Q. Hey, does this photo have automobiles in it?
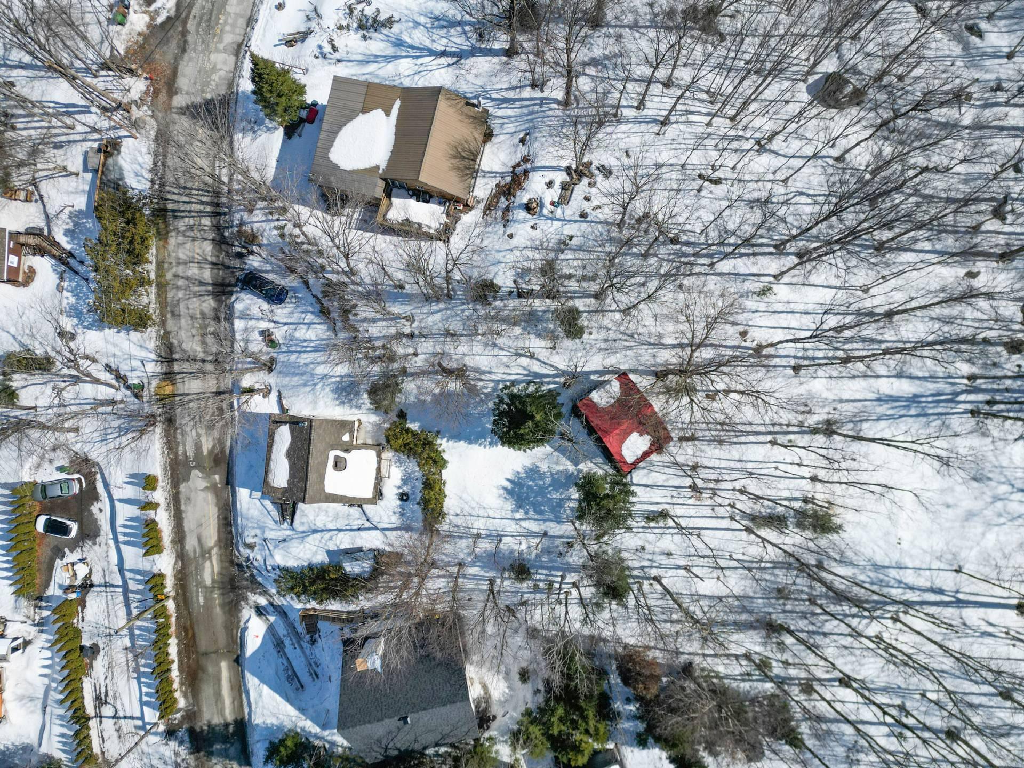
Yes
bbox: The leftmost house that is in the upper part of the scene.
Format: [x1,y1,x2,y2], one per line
[0,228,91,293]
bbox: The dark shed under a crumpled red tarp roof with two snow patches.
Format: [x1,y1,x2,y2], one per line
[575,372,673,473]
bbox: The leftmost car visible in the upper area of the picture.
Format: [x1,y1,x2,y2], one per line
[235,268,286,304]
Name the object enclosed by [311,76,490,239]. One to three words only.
house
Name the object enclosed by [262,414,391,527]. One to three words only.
house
